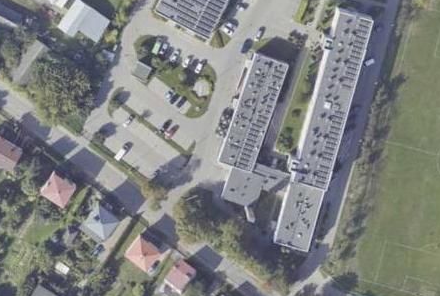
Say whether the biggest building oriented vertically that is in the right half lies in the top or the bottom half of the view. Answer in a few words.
top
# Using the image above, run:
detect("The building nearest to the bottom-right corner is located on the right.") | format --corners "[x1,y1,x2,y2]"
[272,181,325,252]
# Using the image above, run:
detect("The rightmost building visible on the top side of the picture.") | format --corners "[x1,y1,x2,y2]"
[289,8,373,191]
